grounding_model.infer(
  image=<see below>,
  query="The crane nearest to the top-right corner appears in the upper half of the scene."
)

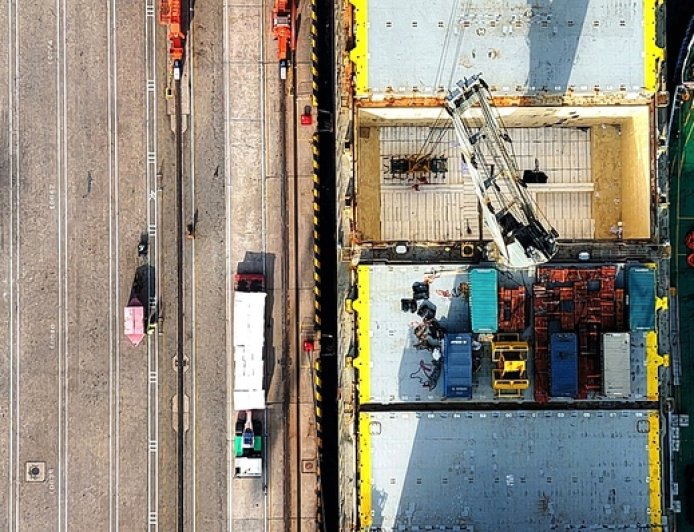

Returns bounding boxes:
[413,62,566,274]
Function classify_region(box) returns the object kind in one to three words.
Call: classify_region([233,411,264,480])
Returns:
truck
